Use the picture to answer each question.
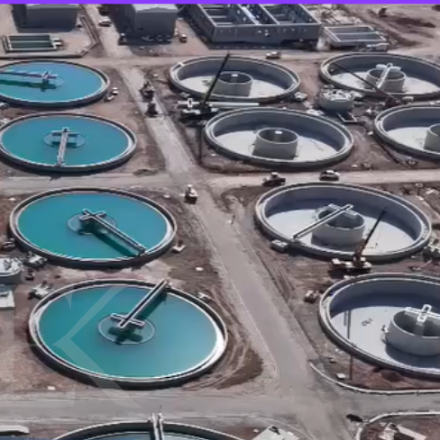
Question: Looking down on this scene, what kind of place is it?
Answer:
industrial area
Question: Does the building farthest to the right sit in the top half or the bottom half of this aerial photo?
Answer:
top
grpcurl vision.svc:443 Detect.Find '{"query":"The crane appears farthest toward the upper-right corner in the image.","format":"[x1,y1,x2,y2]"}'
[332,60,410,108]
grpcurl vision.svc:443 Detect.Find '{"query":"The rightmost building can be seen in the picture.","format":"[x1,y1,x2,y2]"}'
[124,0,181,39]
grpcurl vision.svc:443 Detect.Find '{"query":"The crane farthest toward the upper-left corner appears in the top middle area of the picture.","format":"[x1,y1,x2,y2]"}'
[186,55,229,113]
